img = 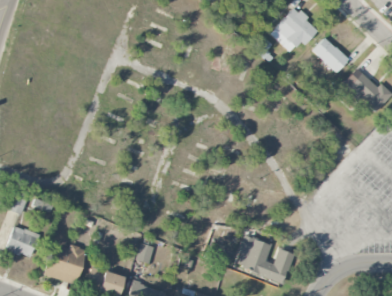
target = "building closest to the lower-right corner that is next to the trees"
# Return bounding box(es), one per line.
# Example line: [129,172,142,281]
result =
[242,237,294,285]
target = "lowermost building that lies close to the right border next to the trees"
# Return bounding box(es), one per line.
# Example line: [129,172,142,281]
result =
[353,68,392,108]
